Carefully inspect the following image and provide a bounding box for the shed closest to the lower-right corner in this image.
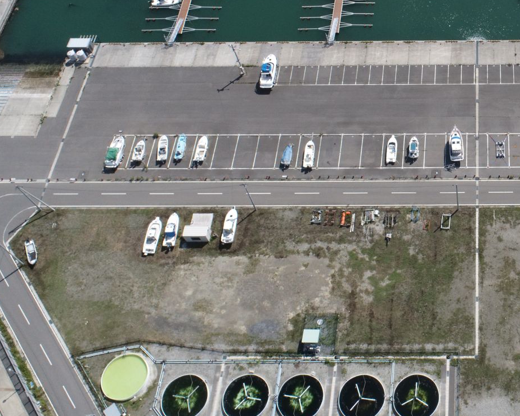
[302,329,321,352]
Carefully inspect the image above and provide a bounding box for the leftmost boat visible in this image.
[25,239,37,264]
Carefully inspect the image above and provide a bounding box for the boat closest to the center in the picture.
[222,206,237,245]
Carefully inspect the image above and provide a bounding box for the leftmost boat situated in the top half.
[106,128,125,169]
